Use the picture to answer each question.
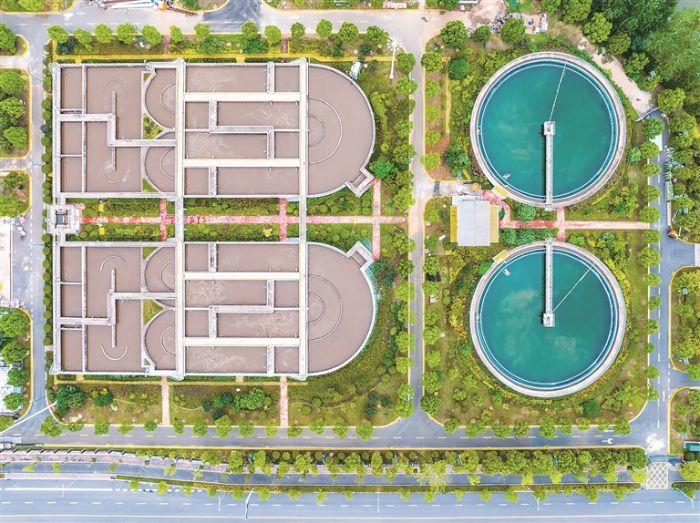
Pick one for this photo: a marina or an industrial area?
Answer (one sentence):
It's an industrial area.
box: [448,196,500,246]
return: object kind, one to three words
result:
building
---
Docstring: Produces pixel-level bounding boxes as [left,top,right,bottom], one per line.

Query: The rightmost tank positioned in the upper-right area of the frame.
[468,50,628,212]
